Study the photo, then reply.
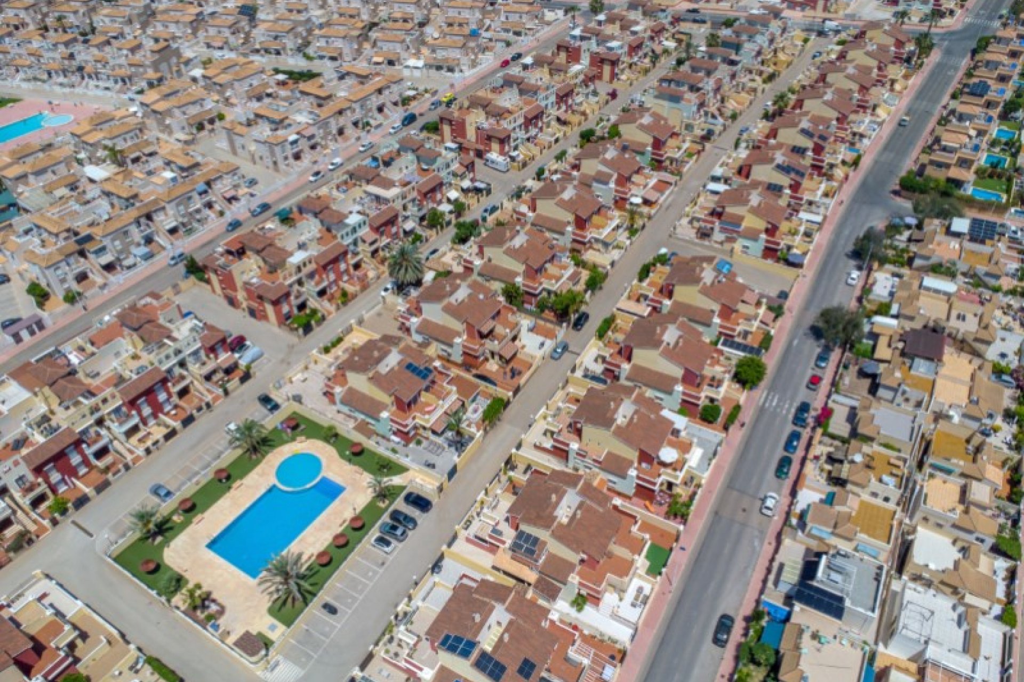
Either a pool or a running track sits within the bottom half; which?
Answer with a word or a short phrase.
pool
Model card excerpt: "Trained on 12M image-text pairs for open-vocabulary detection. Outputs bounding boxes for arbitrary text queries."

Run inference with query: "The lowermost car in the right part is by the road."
[711,613,734,649]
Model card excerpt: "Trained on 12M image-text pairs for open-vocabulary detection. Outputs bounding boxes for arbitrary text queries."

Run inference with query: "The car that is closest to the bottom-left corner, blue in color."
[150,485,173,502]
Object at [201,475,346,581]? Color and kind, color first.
blue swimming pool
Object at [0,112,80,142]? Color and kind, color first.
blue swimming pool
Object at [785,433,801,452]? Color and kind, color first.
blue car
